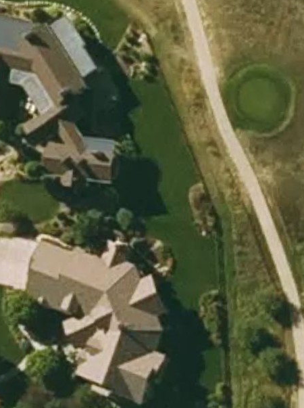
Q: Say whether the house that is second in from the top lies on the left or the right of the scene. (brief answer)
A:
left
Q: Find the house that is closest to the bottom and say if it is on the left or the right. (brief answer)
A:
left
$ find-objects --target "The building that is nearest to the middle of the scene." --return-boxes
[40,113,116,188]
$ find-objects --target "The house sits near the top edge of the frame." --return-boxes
[0,15,97,136]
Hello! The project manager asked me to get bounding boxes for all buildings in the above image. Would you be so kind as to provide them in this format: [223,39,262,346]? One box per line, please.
[26,240,167,405]
[40,113,116,188]
[0,15,97,136]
